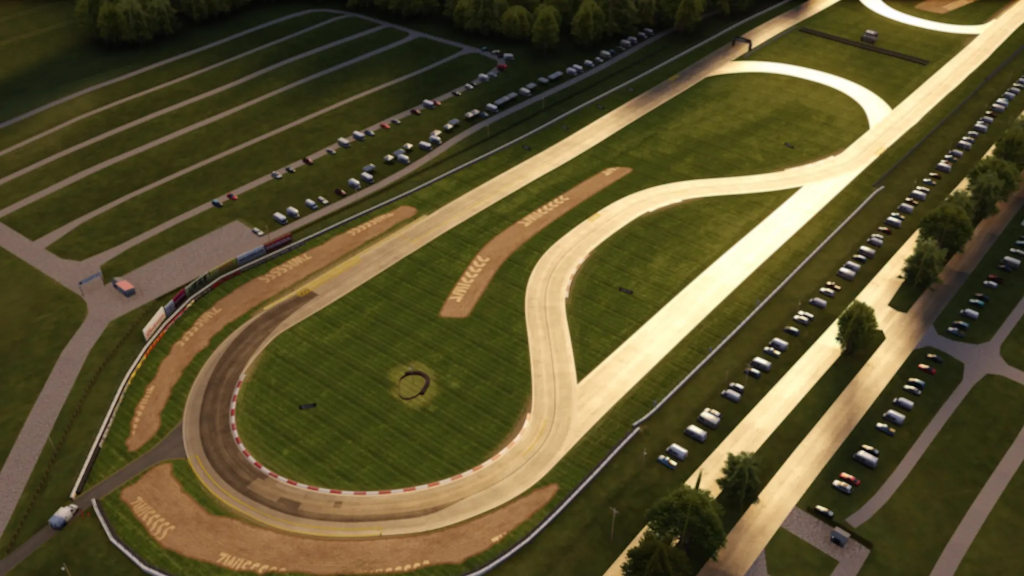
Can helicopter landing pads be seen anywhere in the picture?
No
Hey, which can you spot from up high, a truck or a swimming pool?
truck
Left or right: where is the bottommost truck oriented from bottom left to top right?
left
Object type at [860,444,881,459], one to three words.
car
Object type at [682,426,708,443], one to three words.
vehicle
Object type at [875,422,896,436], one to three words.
car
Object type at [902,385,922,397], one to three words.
vehicle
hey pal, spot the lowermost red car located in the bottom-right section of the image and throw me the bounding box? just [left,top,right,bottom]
[838,472,861,487]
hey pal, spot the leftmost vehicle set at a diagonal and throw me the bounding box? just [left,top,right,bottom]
[41,500,82,532]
